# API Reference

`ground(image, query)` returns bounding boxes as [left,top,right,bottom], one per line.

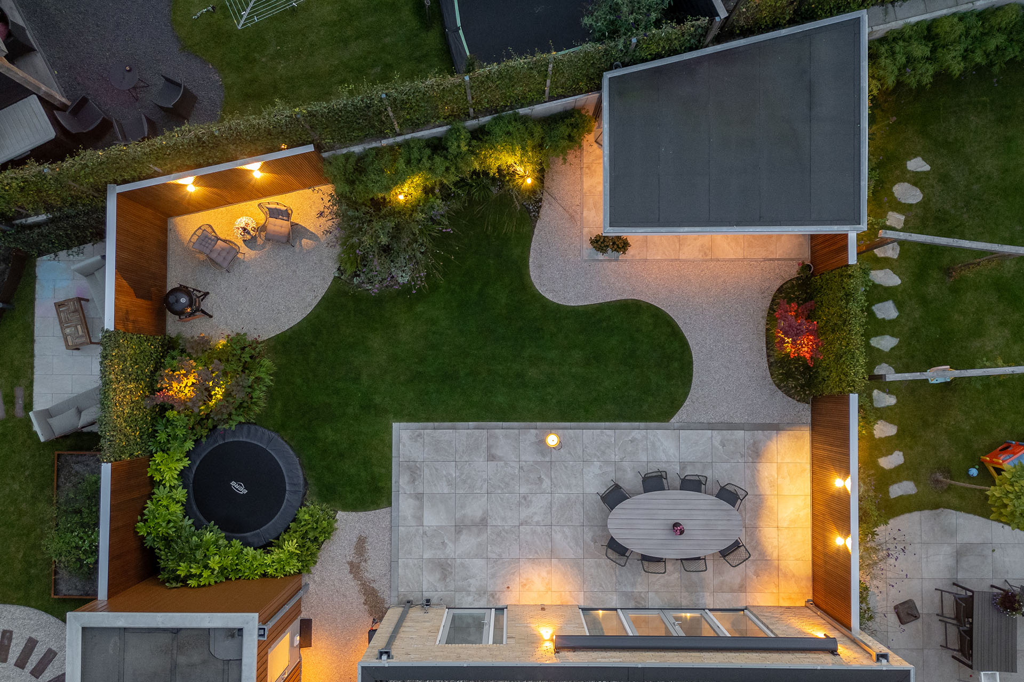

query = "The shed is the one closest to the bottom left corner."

[64,574,311,682]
